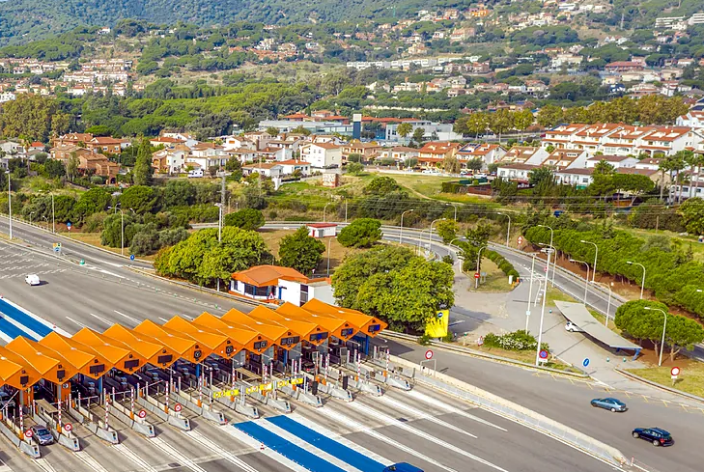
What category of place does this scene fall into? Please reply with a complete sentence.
The area seen from above is a residential area.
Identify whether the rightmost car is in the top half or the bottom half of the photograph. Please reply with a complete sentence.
The rightmost car is in the bottom half of the image.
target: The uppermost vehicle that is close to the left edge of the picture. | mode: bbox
[24,272,42,284]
